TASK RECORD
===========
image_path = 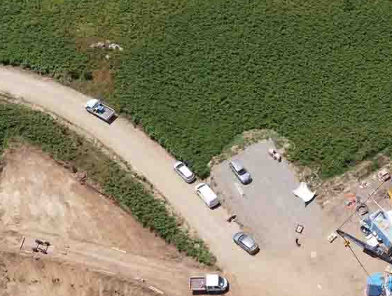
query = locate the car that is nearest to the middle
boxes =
[172,158,196,181]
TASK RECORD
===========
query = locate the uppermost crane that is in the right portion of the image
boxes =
[341,180,392,280]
